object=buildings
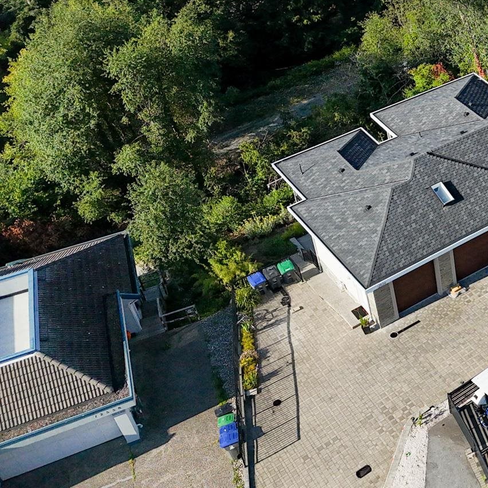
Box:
[0,239,157,488]
[269,71,488,329]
